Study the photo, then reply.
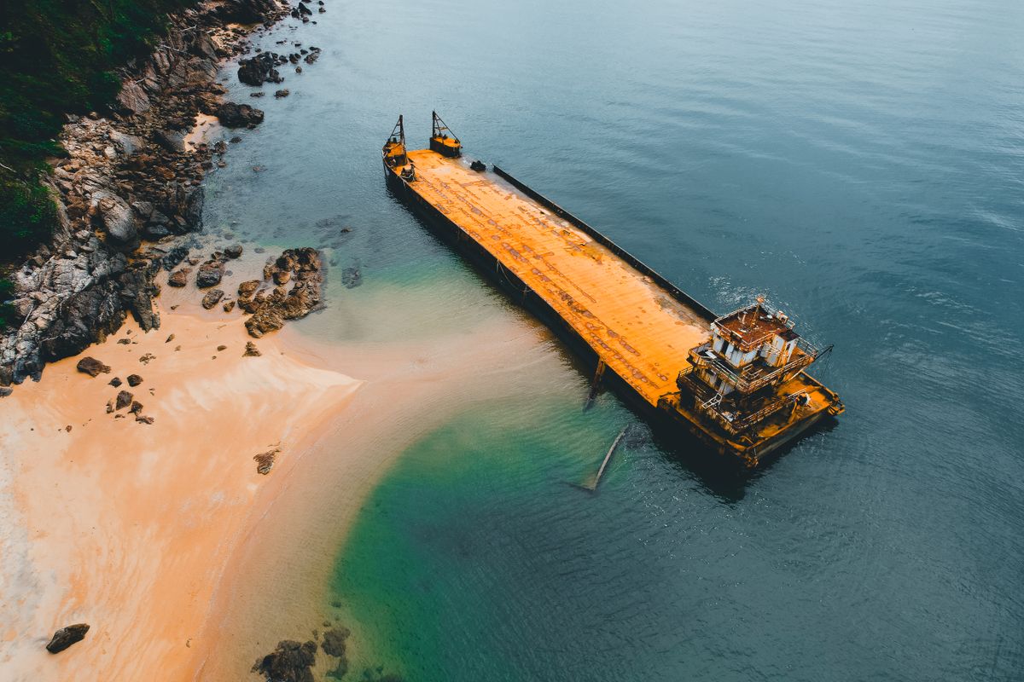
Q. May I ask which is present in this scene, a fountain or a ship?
ship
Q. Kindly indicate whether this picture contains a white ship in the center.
No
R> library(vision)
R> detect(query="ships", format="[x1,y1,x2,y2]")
[380,104,850,477]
